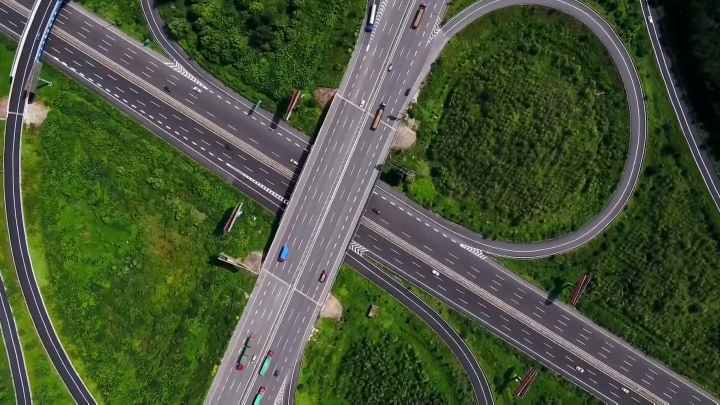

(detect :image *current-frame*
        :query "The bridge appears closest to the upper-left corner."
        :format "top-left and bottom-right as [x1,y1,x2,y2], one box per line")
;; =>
[5,0,60,120]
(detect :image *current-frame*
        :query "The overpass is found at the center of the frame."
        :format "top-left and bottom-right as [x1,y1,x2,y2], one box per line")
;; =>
[262,92,397,307]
